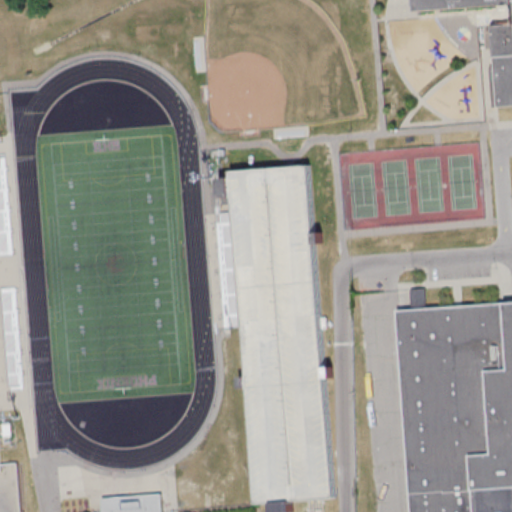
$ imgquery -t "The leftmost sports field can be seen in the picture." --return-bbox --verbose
[38,126,195,404]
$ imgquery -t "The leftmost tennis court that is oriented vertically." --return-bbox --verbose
[348,162,378,220]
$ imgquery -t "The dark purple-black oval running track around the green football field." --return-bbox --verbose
[13,62,215,466]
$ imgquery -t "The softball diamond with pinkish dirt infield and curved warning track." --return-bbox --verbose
[206,0,365,130]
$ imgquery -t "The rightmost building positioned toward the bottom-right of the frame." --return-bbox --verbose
[396,287,512,512]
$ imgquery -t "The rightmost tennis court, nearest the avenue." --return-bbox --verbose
[448,154,478,211]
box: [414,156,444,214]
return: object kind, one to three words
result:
tennis court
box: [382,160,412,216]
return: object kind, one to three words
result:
tennis court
